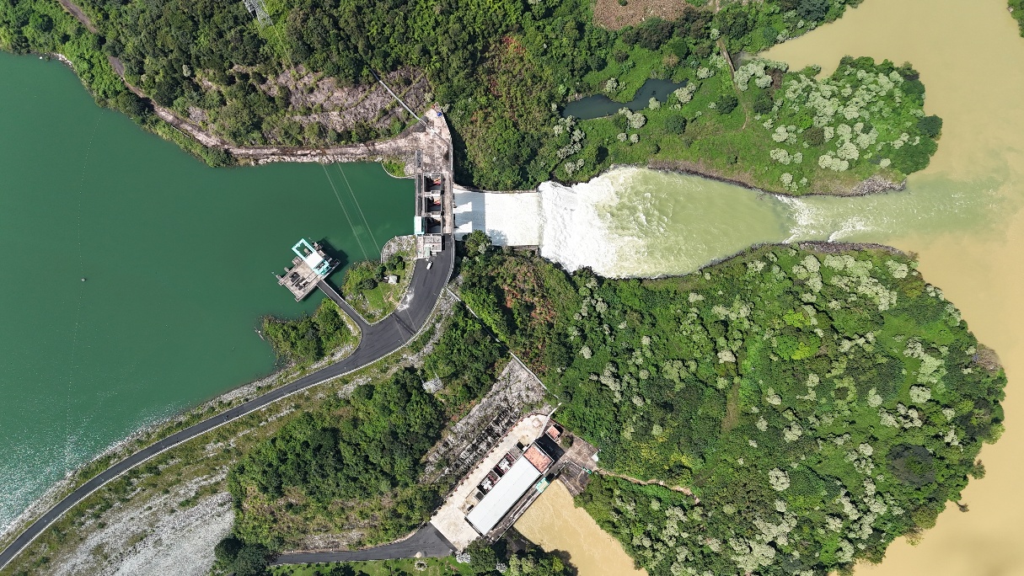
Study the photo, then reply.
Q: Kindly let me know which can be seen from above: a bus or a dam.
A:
dam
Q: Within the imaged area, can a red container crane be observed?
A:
No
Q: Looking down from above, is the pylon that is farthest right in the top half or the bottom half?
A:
bottom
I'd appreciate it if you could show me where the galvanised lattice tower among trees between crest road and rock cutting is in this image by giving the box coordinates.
[420,369,444,390]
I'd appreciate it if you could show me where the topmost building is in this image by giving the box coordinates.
[424,236,442,257]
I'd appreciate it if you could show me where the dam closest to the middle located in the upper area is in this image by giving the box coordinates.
[415,169,541,250]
